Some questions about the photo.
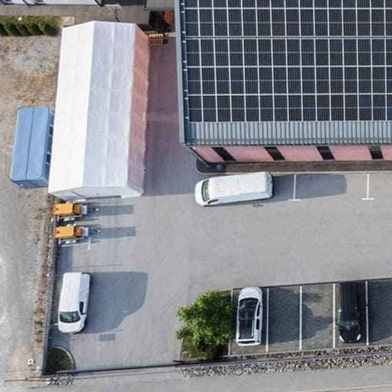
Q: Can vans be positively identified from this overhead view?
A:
Yes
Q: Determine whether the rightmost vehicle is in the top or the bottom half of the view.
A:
bottom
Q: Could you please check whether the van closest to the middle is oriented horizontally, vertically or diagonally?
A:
horizontally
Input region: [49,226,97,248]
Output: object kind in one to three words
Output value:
trailer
